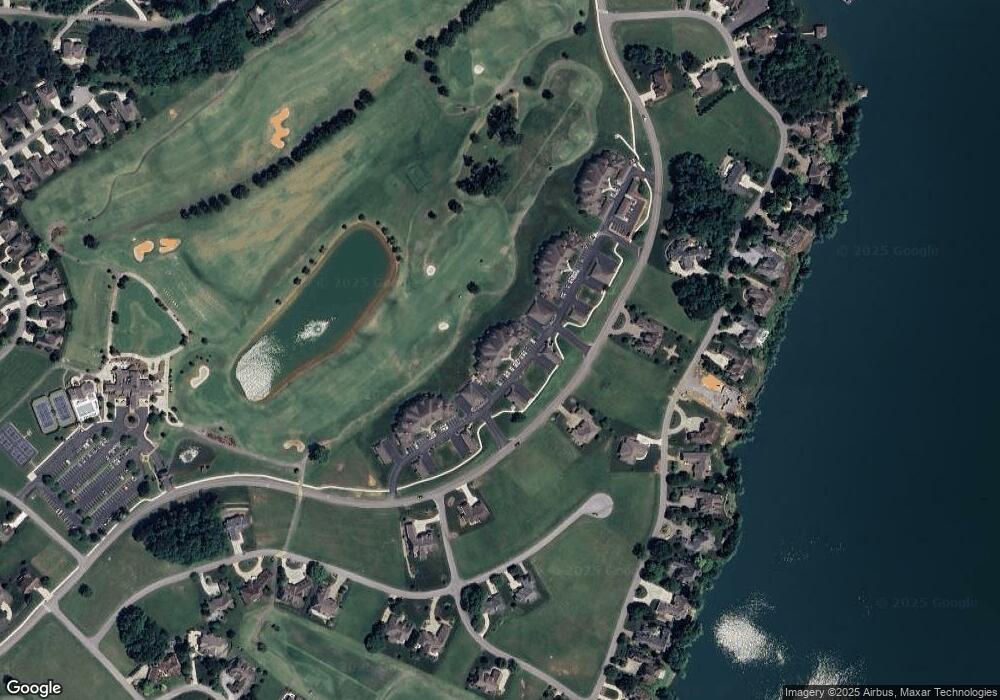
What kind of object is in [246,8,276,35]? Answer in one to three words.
house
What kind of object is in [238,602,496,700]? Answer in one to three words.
golf course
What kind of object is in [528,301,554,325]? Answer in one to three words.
building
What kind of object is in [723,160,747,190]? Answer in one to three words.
house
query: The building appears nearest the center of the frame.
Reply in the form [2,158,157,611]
[475,317,533,386]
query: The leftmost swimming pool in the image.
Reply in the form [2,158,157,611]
[76,400,96,416]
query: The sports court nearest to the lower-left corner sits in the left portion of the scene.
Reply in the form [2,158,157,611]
[0,422,38,467]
